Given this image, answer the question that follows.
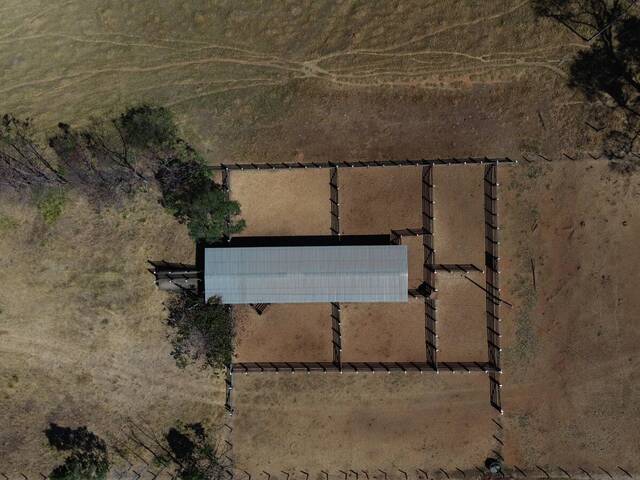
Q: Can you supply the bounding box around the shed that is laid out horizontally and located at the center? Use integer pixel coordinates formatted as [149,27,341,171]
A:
[202,245,410,304]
